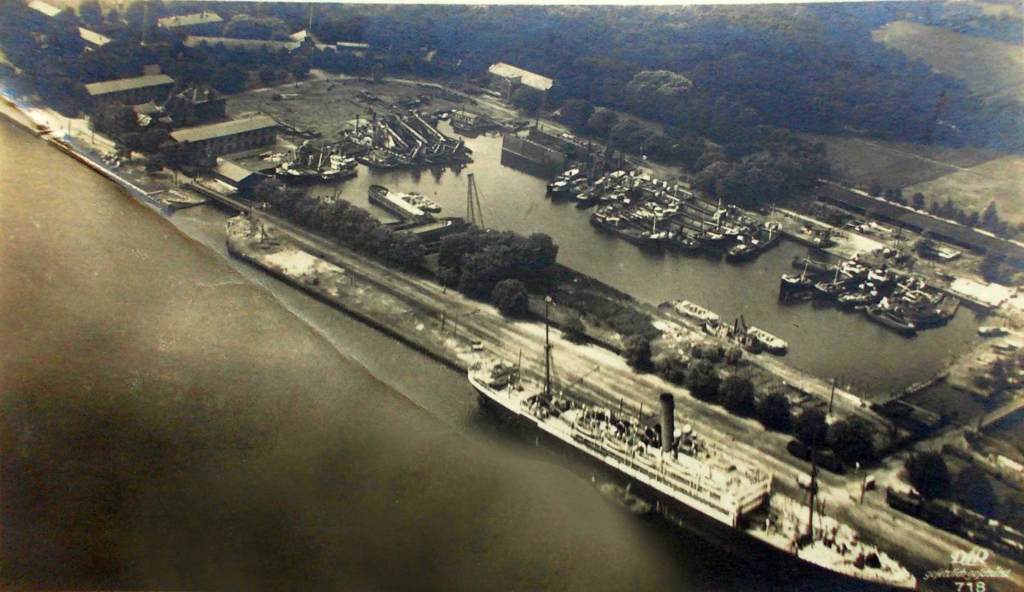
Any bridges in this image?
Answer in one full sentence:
Yes, you can see a bridge in this photo.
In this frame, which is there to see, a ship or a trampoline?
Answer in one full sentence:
I can see a ship in this picture.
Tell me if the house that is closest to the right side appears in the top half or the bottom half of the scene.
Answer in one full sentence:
You can find the house that is closest to the right side in the bottom half.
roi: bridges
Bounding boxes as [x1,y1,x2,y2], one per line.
[173,176,261,217]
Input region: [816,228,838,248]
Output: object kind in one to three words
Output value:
shed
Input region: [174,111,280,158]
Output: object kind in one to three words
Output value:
building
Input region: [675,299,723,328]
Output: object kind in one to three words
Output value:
ship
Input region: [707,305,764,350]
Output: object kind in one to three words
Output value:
ship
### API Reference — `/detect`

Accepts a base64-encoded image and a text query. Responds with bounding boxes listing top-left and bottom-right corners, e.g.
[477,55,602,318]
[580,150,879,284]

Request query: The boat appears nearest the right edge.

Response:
[992,343,1021,355]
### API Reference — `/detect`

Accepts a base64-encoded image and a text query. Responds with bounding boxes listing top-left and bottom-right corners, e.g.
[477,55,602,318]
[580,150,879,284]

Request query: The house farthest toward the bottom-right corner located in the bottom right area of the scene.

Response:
[996,450,1024,483]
